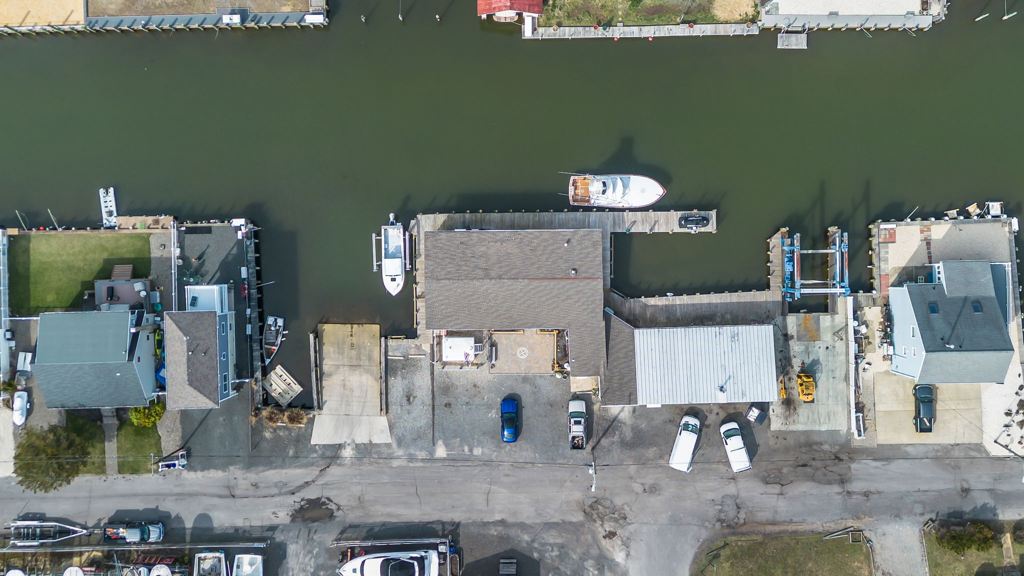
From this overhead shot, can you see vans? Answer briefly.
Yes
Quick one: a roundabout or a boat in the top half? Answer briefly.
boat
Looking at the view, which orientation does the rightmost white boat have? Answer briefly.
from side to side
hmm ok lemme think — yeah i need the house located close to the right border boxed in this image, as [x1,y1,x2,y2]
[889,260,1014,384]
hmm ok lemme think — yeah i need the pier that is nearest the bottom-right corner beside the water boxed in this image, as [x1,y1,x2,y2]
[849,290,881,306]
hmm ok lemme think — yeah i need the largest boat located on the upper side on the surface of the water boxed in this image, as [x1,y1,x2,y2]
[559,172,667,207]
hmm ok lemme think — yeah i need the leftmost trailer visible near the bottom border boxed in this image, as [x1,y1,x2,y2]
[4,520,103,549]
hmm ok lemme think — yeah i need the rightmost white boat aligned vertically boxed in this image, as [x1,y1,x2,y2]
[382,217,405,294]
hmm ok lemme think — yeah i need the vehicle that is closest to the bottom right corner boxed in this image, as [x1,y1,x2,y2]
[912,384,936,434]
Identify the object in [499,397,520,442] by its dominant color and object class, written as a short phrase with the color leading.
blue car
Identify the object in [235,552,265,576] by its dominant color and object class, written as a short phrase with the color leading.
white boat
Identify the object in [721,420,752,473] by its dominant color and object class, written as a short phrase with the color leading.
white truck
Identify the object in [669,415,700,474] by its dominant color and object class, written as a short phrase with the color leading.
white van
